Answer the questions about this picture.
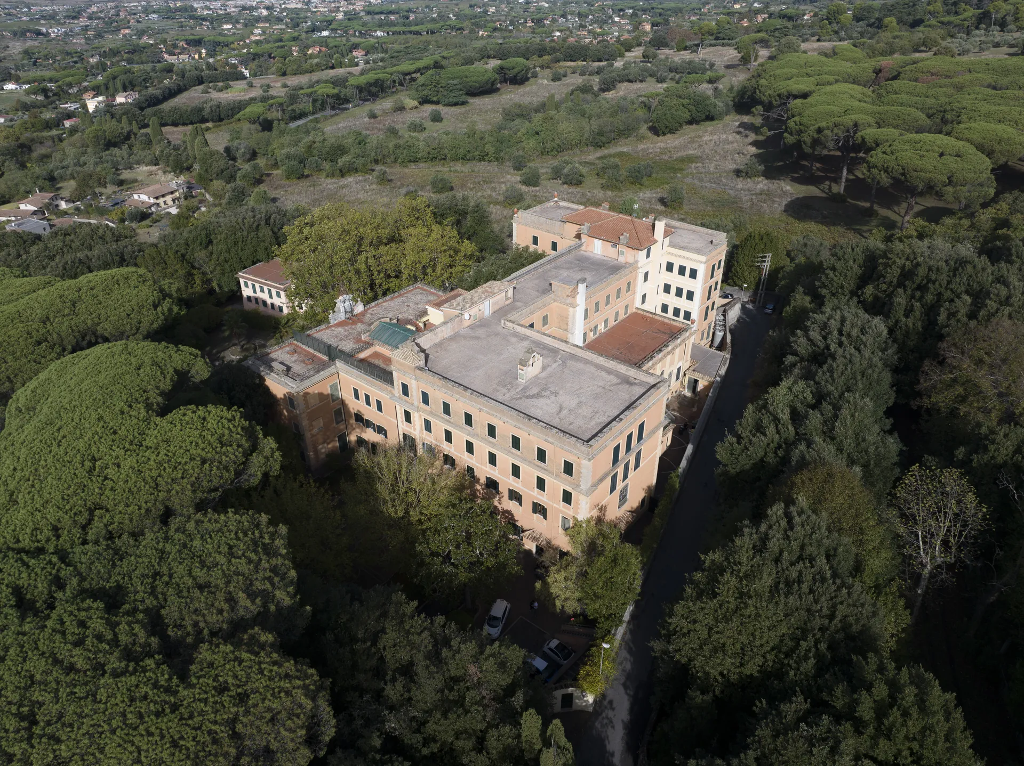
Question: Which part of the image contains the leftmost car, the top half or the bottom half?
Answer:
bottom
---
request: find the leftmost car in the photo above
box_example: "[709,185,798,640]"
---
[486,601,508,640]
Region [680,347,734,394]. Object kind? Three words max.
shed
